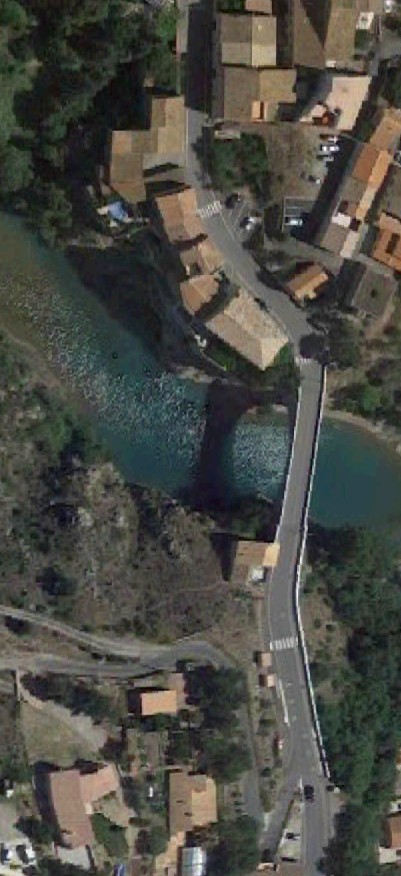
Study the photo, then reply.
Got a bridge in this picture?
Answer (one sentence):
Yes, there's a bridge here.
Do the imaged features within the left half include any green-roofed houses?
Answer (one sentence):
No, there's no green-roofed house to be seen within the left half.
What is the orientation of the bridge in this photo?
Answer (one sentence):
The bridge is laid out up and down.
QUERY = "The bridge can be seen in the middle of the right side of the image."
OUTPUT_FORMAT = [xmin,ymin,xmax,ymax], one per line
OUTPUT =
[268,361,325,545]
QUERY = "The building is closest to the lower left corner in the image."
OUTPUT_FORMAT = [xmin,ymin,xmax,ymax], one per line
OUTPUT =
[48,766,120,870]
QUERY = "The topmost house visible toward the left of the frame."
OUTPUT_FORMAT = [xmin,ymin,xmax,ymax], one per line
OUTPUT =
[103,97,186,201]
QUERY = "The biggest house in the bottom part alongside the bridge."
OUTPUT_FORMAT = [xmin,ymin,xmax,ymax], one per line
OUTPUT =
[226,541,280,578]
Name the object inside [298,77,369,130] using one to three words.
house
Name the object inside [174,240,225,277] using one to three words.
house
